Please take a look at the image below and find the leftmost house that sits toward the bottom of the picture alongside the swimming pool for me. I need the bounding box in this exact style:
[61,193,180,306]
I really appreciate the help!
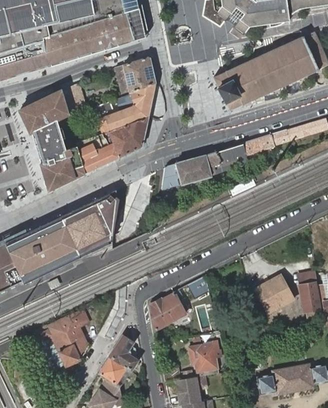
[148,292,188,332]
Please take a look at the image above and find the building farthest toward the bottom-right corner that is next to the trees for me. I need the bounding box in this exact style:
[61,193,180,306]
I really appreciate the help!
[260,364,328,396]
